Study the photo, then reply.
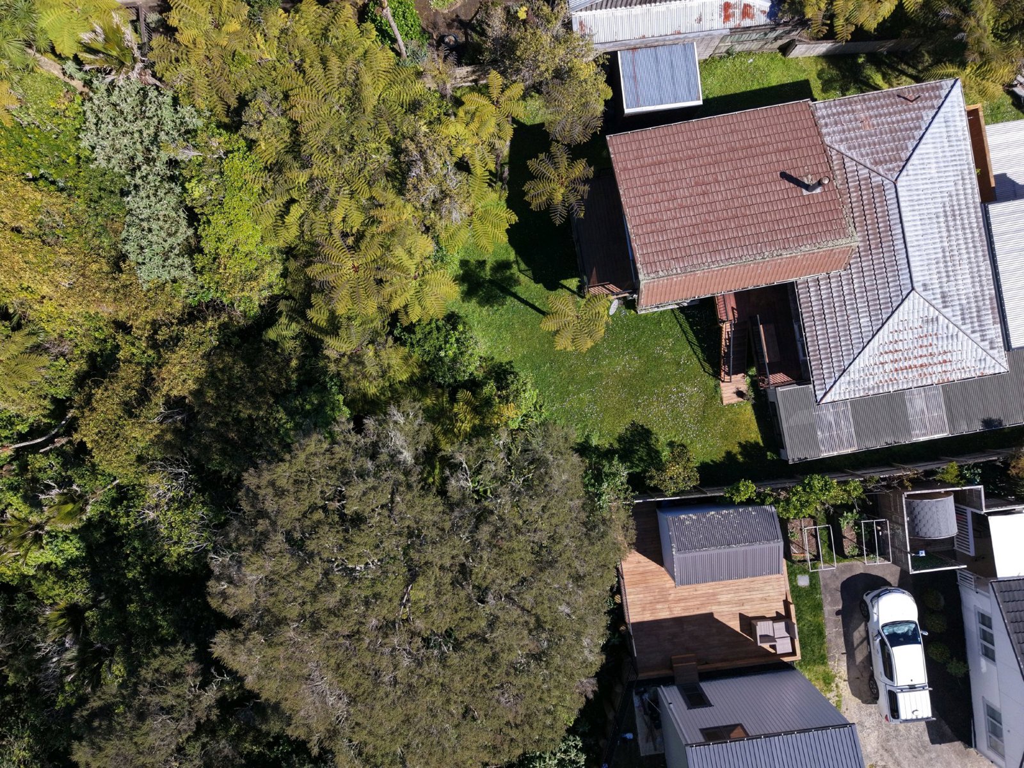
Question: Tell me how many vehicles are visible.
1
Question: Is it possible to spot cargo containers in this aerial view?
No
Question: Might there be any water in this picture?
No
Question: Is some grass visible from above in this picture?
Yes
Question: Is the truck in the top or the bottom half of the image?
bottom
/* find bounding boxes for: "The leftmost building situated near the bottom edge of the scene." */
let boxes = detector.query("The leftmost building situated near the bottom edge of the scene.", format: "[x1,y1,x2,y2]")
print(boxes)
[653,662,865,768]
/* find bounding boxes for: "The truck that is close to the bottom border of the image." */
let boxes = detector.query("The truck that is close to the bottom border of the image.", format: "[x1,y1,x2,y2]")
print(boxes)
[861,583,945,730]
